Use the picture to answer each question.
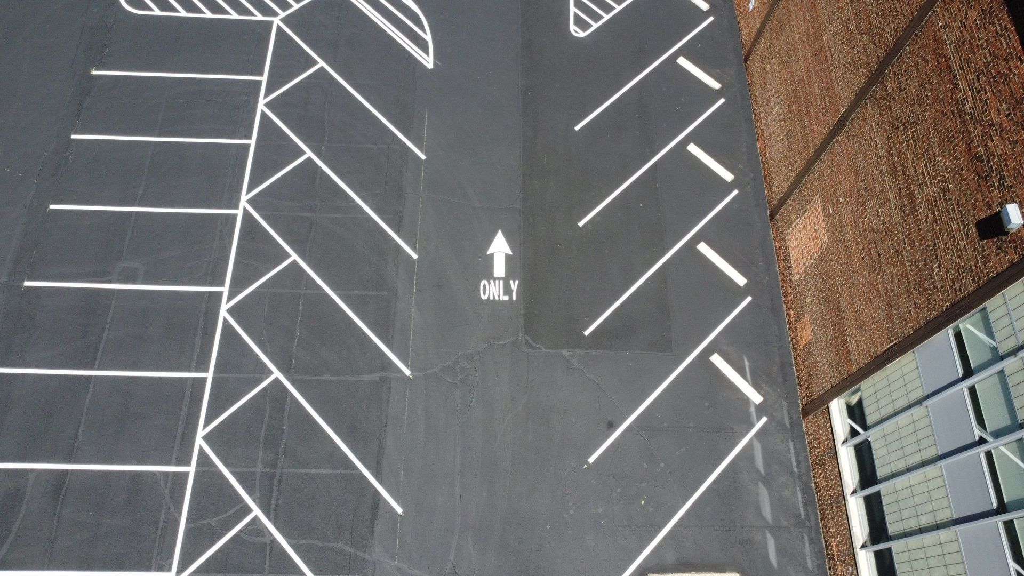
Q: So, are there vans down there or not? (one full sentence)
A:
No, the photo shows no van.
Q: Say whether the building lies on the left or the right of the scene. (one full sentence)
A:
The building is on the right side of the image.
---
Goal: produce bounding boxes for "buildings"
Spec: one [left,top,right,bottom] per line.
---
[735,0,1024,576]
